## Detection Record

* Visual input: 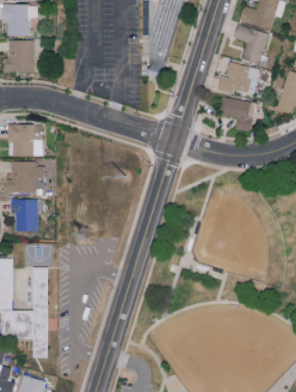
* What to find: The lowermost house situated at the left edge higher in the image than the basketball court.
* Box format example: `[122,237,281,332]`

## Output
[10,200,39,232]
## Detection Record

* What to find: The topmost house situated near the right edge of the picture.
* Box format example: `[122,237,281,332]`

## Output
[240,0,286,32]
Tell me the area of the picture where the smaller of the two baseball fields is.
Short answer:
right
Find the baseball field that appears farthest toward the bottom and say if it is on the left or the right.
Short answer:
right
